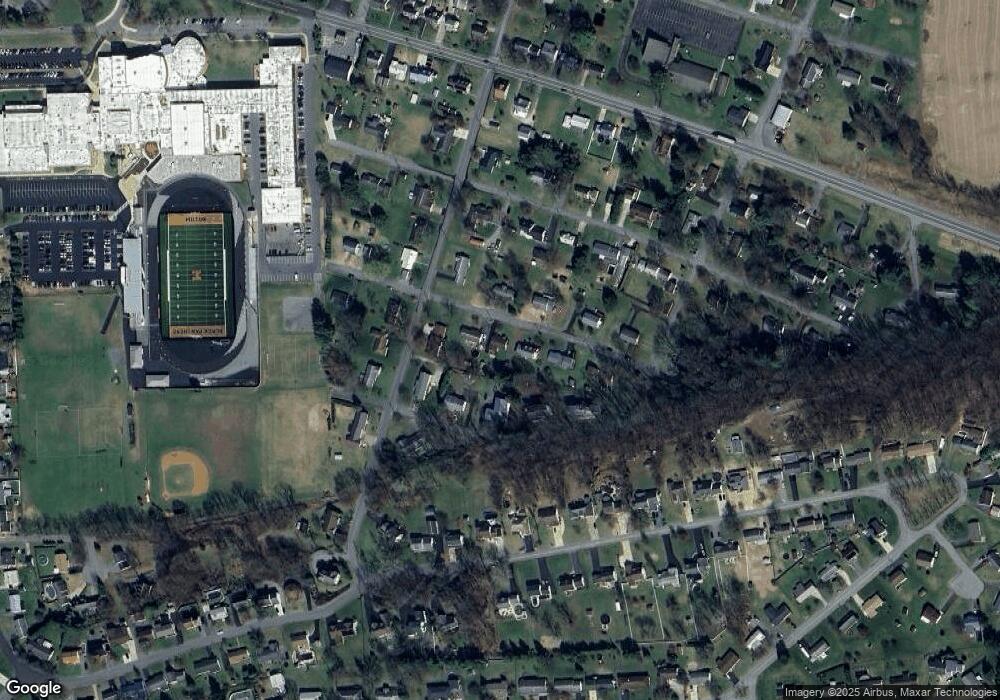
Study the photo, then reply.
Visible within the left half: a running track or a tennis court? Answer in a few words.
running track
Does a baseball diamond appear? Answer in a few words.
Yes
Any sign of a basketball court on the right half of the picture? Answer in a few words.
No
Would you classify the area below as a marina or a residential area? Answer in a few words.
residential area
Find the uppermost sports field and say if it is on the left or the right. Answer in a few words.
left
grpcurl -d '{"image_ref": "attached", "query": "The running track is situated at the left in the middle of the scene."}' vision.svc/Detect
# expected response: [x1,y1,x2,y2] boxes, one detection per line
[136,176,259,387]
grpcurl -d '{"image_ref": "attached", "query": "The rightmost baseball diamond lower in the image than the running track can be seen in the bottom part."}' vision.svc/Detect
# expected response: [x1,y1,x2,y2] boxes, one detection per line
[160,450,208,500]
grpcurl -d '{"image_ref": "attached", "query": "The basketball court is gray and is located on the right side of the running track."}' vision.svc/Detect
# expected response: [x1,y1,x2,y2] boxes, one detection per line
[283,297,312,331]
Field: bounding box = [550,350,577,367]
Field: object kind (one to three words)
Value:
house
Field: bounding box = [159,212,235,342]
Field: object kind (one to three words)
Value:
sports field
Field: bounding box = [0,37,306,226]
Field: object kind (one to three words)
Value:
building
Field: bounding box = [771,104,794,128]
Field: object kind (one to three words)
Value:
house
